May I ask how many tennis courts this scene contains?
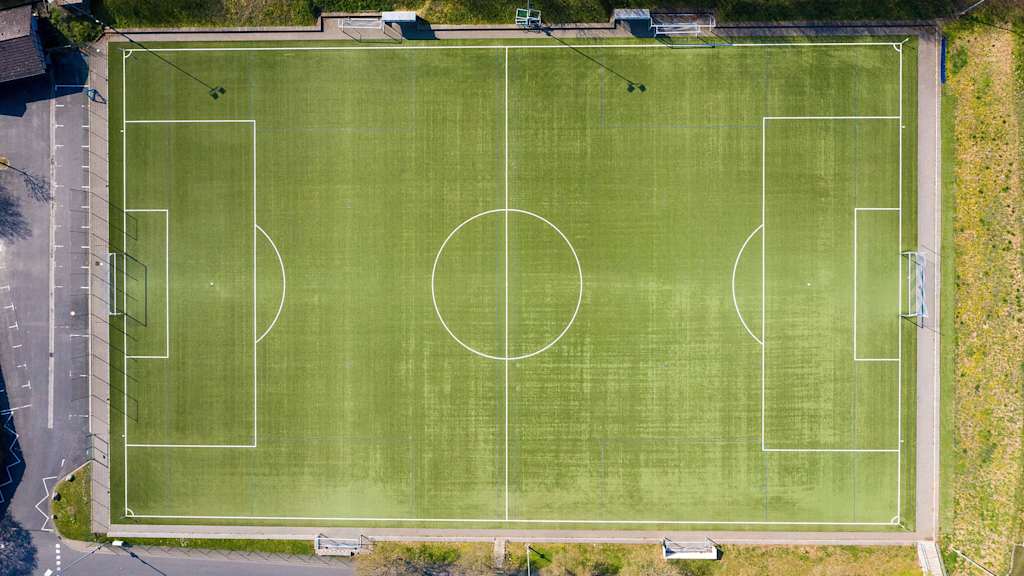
0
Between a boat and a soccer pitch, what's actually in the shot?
soccer pitch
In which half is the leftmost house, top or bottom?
top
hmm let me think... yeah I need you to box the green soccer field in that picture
[109,36,918,532]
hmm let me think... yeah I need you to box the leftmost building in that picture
[0,5,52,87]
